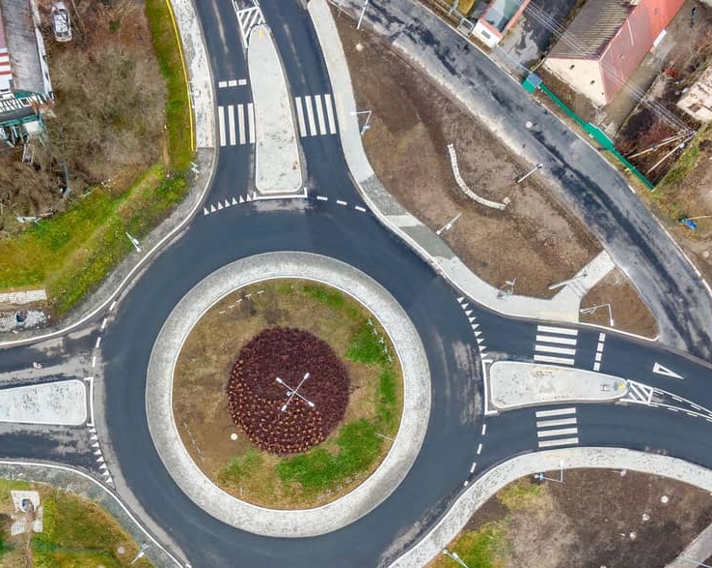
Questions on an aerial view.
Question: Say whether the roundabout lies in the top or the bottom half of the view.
bottom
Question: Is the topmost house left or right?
right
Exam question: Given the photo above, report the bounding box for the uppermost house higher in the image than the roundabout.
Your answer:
[473,0,534,49]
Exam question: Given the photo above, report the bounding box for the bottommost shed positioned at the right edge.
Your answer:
[672,72,712,124]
